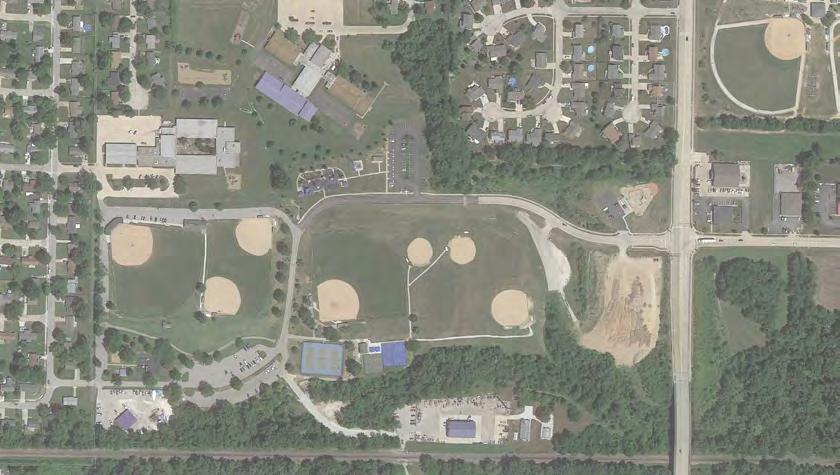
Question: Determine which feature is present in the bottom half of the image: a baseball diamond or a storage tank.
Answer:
baseball diamond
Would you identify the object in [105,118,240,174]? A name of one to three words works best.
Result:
building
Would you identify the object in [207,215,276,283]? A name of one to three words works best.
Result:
baseball field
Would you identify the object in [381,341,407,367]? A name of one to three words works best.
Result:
basketball court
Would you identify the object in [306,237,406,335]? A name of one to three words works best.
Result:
baseball field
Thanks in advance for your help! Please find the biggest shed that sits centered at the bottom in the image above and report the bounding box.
[446,420,476,438]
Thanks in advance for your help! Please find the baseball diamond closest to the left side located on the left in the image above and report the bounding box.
[107,222,202,325]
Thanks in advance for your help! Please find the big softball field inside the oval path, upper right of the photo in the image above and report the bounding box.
[714,14,810,109]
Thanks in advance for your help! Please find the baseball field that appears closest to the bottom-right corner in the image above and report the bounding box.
[492,290,532,329]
